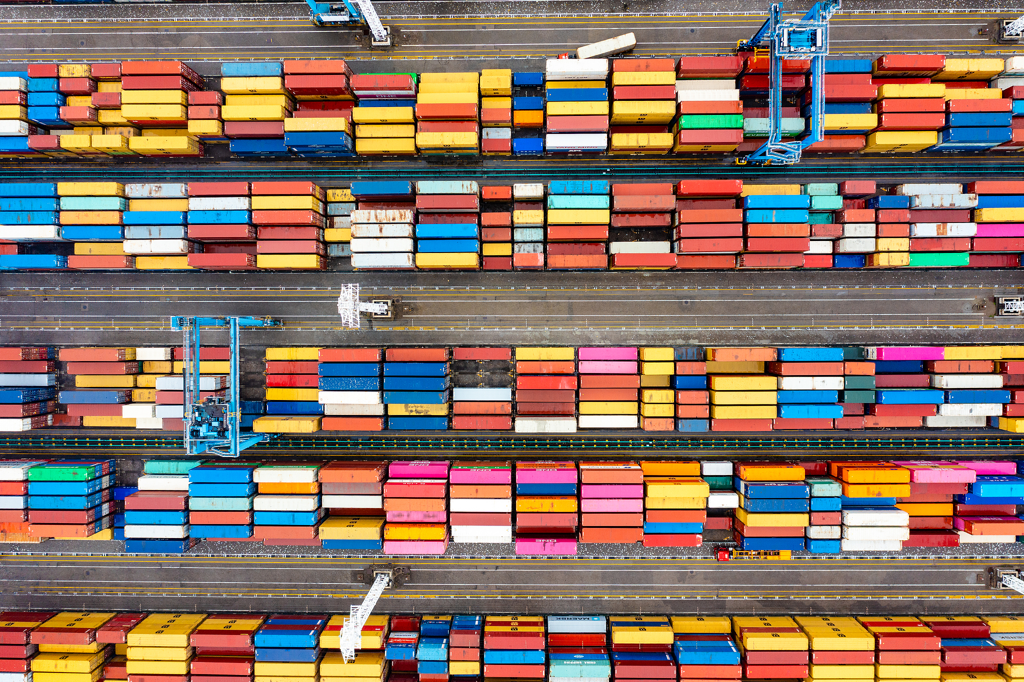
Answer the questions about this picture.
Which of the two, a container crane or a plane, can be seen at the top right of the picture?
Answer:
container crane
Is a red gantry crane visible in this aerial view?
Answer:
No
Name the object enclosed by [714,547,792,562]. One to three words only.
vehicle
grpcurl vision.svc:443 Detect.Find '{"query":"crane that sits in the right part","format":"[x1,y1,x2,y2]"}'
[735,0,834,168]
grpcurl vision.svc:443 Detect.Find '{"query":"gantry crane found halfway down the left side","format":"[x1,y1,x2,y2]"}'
[169,319,281,461]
